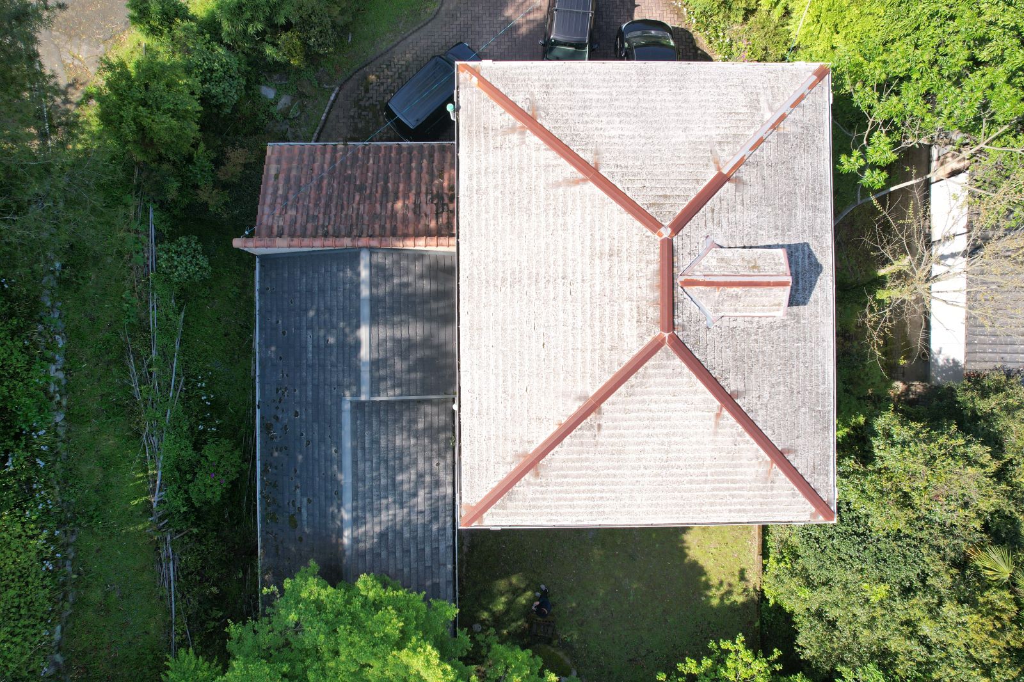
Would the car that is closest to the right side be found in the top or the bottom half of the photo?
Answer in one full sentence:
You can find the car that is closest to the right side in the top half.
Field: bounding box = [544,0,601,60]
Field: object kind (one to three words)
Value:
car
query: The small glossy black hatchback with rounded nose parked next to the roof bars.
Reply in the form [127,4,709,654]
[618,17,680,60]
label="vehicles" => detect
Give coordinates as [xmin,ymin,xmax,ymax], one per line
[384,32,495,141]
[618,17,680,60]
[544,0,601,60]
